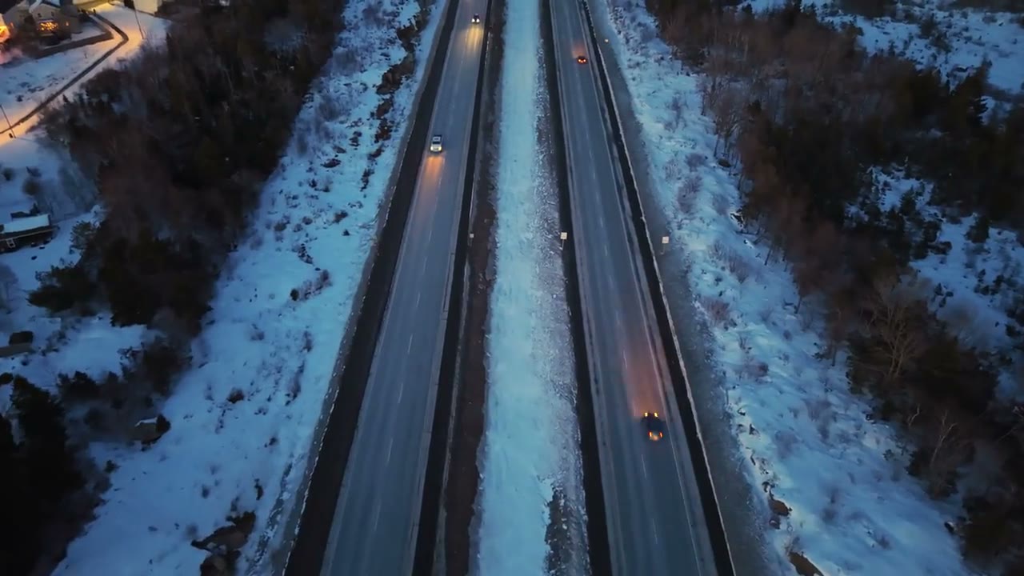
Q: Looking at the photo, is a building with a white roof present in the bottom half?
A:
No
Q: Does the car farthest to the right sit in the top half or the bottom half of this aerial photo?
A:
bottom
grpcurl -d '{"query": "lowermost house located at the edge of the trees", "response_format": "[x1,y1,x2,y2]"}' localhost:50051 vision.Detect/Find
[132,411,172,443]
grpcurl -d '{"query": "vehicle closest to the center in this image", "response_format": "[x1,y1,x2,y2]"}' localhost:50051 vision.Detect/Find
[430,133,442,149]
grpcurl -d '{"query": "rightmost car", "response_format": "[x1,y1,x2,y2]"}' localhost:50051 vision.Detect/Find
[644,411,664,441]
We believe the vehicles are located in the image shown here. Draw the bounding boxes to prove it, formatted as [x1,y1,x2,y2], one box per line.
[430,133,442,149]
[644,411,664,441]
[577,53,586,61]
[472,13,479,21]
